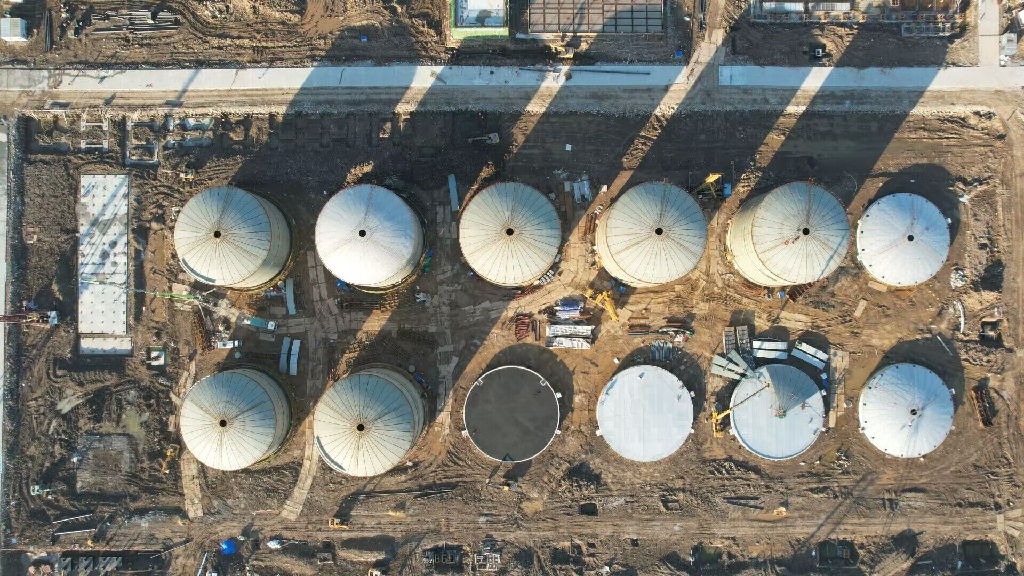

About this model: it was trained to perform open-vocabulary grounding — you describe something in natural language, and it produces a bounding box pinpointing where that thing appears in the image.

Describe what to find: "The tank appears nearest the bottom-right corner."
[856,362,957,457]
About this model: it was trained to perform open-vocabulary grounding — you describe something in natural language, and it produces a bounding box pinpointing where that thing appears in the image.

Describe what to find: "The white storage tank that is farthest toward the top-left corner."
[173,183,295,288]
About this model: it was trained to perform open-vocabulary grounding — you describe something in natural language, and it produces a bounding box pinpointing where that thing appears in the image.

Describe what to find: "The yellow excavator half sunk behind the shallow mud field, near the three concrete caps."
[81,534,103,550]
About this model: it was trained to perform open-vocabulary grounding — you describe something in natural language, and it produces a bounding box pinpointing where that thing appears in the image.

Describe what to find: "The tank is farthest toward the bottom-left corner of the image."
[179,363,299,470]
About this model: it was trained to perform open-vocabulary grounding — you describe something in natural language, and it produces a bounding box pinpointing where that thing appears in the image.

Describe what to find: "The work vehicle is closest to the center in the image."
[468,131,501,144]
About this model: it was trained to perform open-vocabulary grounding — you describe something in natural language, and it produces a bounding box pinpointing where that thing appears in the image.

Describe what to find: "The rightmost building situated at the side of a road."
[999,30,1022,55]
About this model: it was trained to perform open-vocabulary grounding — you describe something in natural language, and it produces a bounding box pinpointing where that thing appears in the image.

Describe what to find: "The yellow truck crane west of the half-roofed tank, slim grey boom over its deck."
[710,381,770,441]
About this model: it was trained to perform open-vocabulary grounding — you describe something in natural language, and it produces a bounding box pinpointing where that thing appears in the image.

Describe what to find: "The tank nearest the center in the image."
[459,178,562,288]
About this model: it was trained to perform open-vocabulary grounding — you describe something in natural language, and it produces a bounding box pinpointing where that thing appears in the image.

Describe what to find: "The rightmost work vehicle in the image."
[547,41,578,58]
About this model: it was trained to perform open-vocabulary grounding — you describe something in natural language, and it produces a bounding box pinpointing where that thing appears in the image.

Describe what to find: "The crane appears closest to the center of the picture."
[585,283,620,322]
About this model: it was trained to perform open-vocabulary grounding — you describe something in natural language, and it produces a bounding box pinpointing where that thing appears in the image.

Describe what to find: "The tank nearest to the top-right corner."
[854,193,953,287]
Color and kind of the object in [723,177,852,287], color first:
white storage tank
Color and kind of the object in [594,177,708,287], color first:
white storage tank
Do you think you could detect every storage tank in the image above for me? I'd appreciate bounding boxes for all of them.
[723,177,852,287]
[314,180,427,289]
[854,193,953,287]
[459,178,562,288]
[594,177,708,287]
[173,183,295,288]
[725,362,826,460]
[594,363,694,462]
[313,363,427,477]
[856,362,957,457]
[463,363,561,462]
[179,363,299,470]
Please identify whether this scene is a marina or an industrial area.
industrial area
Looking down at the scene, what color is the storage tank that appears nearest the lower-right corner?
white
